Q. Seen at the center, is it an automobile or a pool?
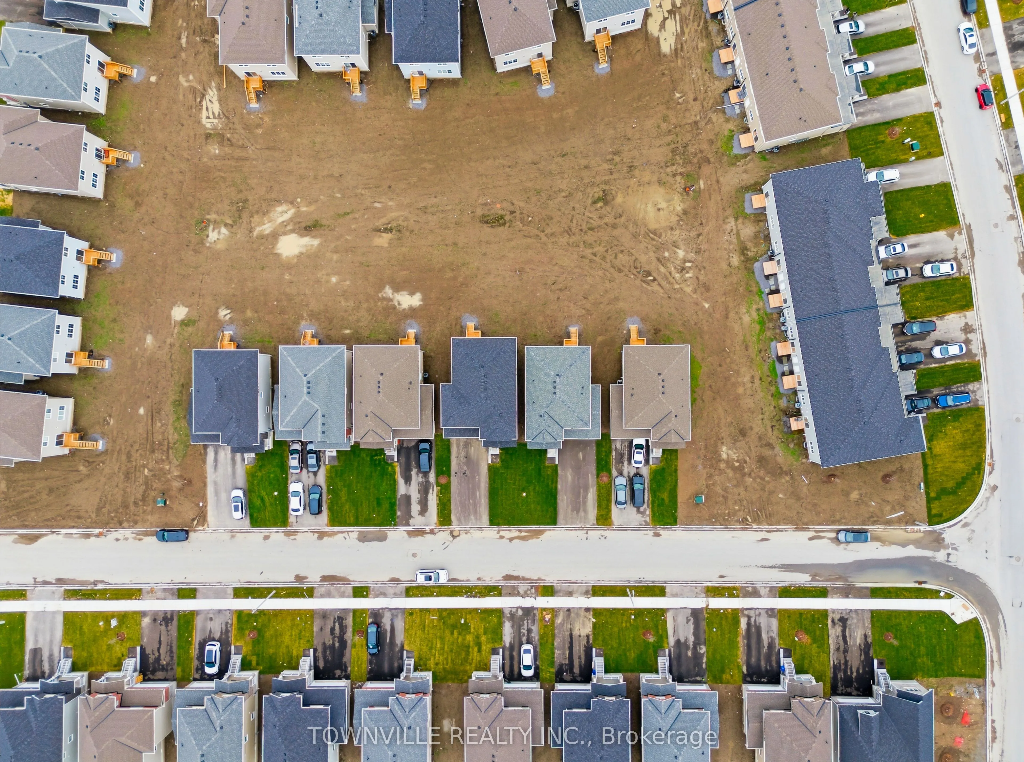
automobile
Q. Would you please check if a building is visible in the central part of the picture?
Yes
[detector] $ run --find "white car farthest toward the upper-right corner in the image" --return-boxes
[956,22,977,56]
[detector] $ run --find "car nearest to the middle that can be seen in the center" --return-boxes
[416,440,433,473]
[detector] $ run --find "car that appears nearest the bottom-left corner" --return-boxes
[203,641,222,675]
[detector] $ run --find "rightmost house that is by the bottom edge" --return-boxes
[832,659,934,762]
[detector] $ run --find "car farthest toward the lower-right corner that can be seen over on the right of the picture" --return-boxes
[836,529,871,545]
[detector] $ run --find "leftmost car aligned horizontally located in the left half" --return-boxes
[156,528,190,544]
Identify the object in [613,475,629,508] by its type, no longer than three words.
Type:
car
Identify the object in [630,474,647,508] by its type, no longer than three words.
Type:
car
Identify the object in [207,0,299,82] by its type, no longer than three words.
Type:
house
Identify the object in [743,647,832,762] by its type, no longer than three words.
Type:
house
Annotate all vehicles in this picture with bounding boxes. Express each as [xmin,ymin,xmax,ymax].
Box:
[867,167,901,183]
[307,484,324,516]
[897,351,925,366]
[229,488,248,520]
[416,440,433,473]
[613,475,629,508]
[961,0,980,16]
[289,481,305,515]
[203,641,222,675]
[930,342,966,359]
[156,528,190,544]
[844,59,874,76]
[902,320,938,337]
[630,474,647,508]
[906,396,935,413]
[834,16,866,34]
[415,568,449,585]
[974,83,994,111]
[921,261,957,277]
[878,243,909,259]
[287,440,304,473]
[836,529,871,545]
[882,266,913,282]
[631,439,646,469]
[520,643,535,677]
[304,442,322,473]
[956,22,977,56]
